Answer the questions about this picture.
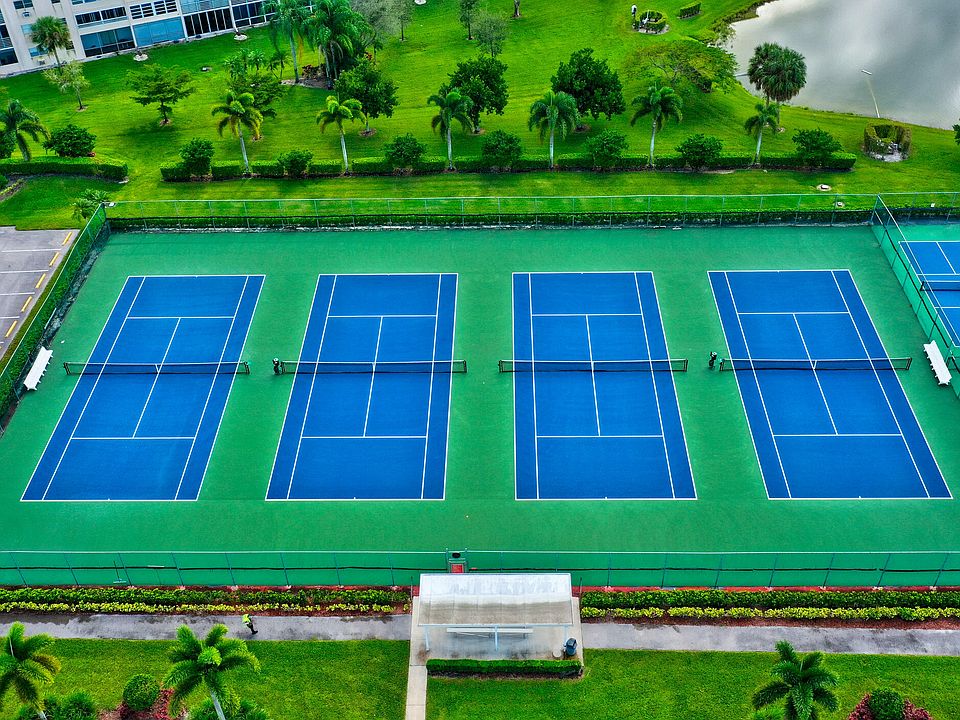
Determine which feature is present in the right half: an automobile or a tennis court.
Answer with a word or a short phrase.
tennis court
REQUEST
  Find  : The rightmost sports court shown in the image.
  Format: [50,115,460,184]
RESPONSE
[899,241,960,346]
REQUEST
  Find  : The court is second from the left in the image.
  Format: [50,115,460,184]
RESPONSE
[266,274,458,500]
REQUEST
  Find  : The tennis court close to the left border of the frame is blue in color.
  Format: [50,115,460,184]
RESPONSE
[21,275,265,501]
